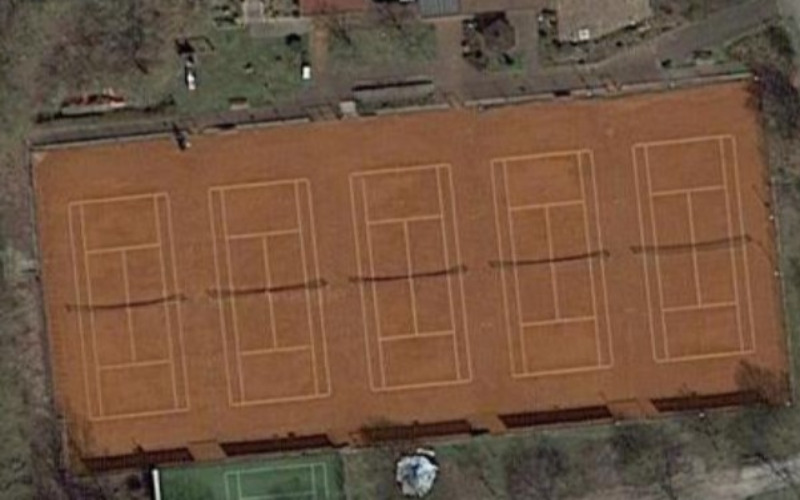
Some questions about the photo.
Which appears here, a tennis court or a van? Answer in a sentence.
I can see a tennis court in this picture.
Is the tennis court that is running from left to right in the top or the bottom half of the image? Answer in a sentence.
The tennis court that is running from left to right sits in the bottom half of the picture.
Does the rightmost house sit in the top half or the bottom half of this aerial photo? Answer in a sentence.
The rightmost house sits in the top half of the picture.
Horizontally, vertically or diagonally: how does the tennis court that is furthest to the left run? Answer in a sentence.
From this overhead view, the tennis court that is furthest to the left appears to run vertically.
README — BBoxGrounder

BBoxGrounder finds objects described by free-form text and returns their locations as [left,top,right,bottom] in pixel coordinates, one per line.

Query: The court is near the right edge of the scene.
[627,129,760,368]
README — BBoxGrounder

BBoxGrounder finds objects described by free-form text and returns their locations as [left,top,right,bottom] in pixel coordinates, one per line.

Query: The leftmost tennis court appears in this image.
[62,186,195,426]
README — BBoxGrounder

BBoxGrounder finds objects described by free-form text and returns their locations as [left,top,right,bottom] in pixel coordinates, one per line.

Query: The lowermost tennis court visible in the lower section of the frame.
[160,457,347,500]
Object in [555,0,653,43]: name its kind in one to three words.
house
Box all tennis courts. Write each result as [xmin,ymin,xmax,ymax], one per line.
[627,129,760,368]
[486,143,618,383]
[203,172,336,412]
[160,457,347,500]
[344,158,477,397]
[62,186,195,426]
